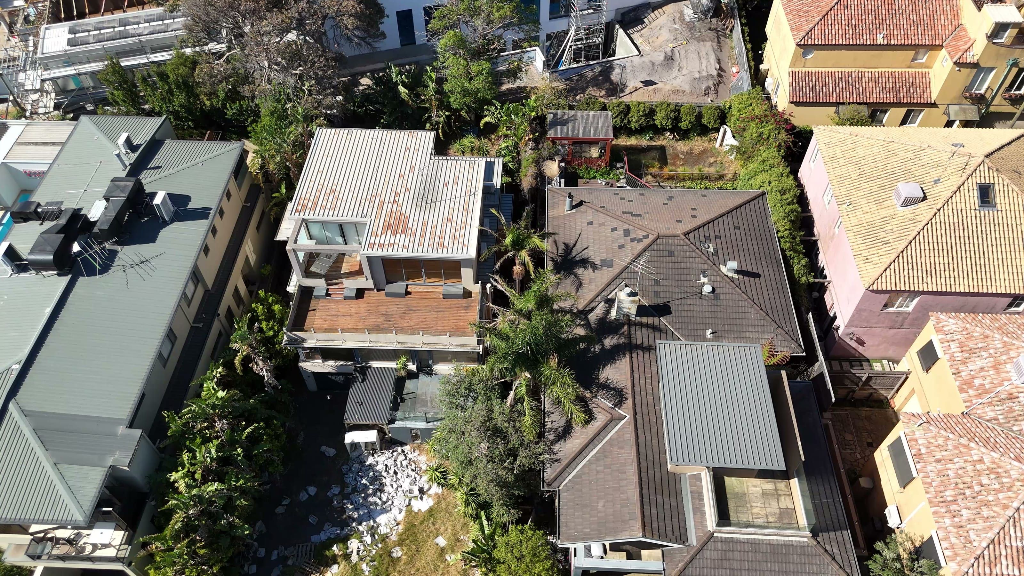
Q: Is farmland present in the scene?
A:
No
